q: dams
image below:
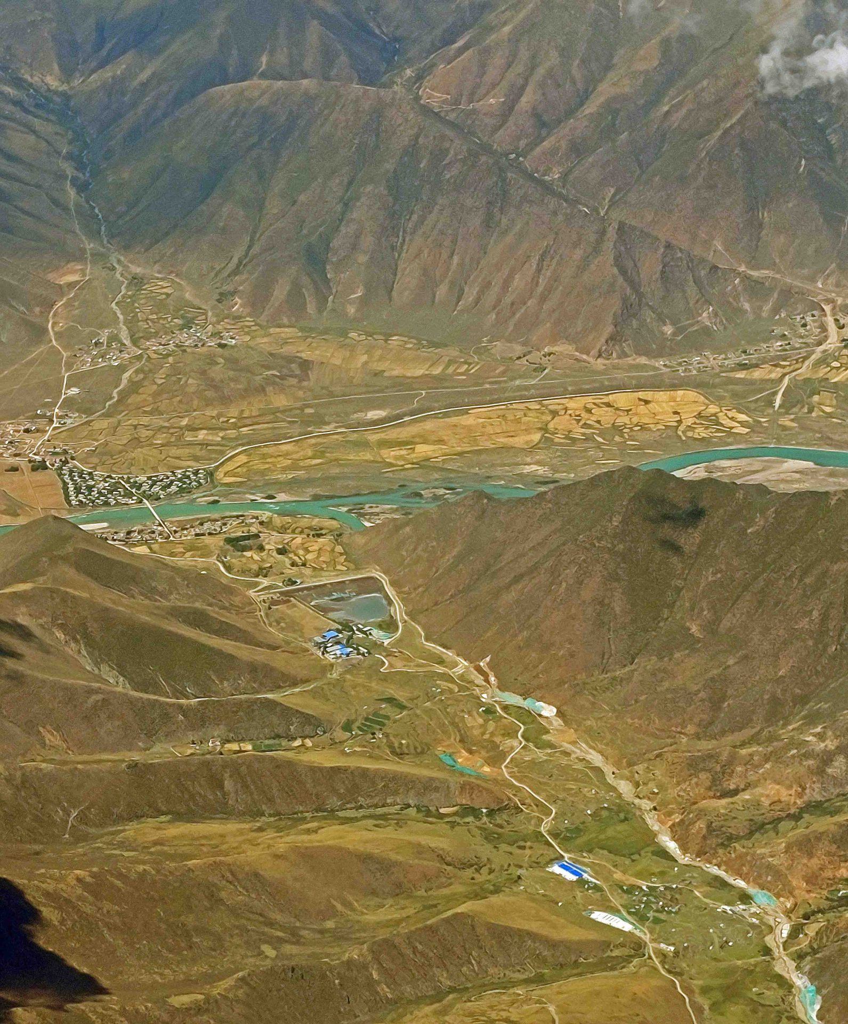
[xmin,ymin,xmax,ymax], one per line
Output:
[255,572,373,595]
